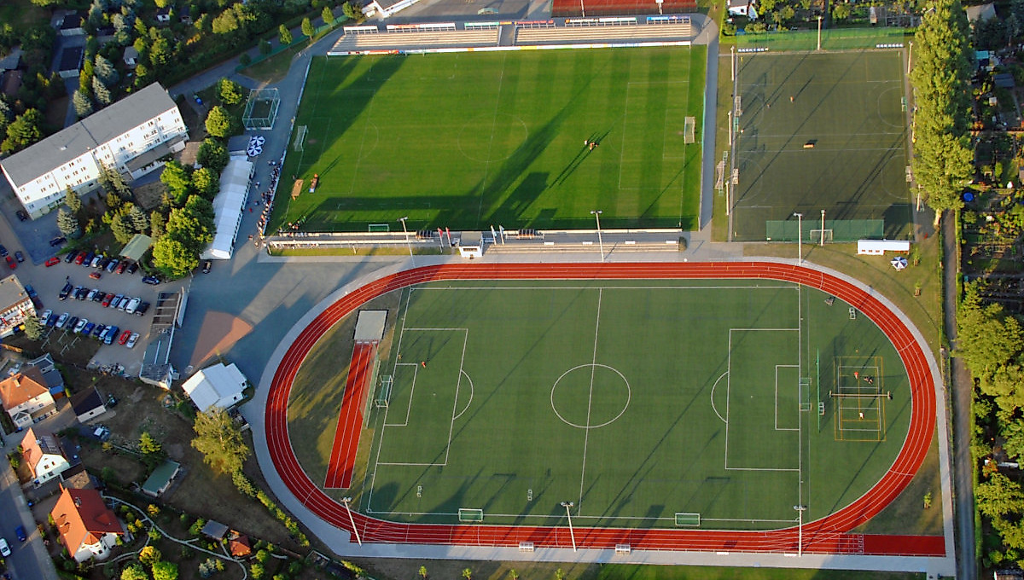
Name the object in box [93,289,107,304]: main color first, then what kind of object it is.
black car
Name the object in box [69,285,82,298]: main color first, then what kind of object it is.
blue vehicle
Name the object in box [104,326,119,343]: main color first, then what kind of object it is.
blue vehicle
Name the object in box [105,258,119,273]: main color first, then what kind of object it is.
blue car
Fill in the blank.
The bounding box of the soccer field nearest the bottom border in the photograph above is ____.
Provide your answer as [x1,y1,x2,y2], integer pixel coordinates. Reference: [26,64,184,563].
[357,278,911,530]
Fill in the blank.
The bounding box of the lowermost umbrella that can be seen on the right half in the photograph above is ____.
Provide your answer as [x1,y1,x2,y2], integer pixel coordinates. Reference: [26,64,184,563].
[891,254,908,268]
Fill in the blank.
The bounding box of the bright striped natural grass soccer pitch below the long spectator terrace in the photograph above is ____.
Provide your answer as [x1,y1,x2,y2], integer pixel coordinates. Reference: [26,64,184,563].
[266,44,707,238]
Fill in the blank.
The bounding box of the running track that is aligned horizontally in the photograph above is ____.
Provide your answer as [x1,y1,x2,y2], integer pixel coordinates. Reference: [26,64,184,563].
[265,262,947,556]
